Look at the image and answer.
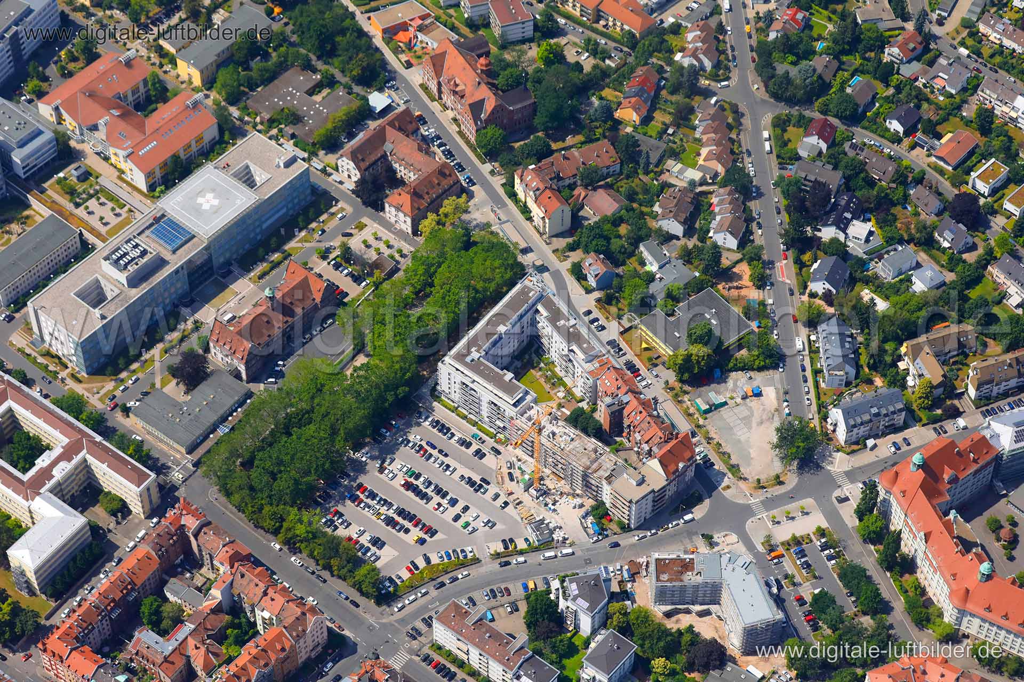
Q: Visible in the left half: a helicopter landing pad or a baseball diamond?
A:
helicopter landing pad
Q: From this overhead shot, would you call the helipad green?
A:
No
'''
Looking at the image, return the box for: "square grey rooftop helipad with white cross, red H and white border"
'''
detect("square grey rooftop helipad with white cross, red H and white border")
[152,161,265,243]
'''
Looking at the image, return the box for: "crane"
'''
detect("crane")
[512,354,604,498]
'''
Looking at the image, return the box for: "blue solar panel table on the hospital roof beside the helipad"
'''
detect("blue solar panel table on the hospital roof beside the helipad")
[148,217,192,252]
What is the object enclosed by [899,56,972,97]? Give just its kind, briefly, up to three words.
house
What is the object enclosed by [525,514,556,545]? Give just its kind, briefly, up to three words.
shed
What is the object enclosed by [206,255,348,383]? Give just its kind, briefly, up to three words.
building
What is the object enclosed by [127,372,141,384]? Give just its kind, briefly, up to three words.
vehicle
